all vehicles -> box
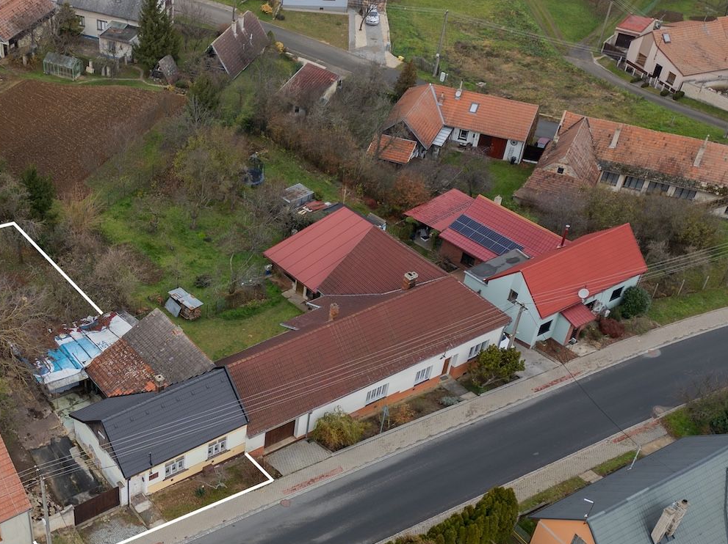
[366,6,381,21]
[537,130,555,147]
